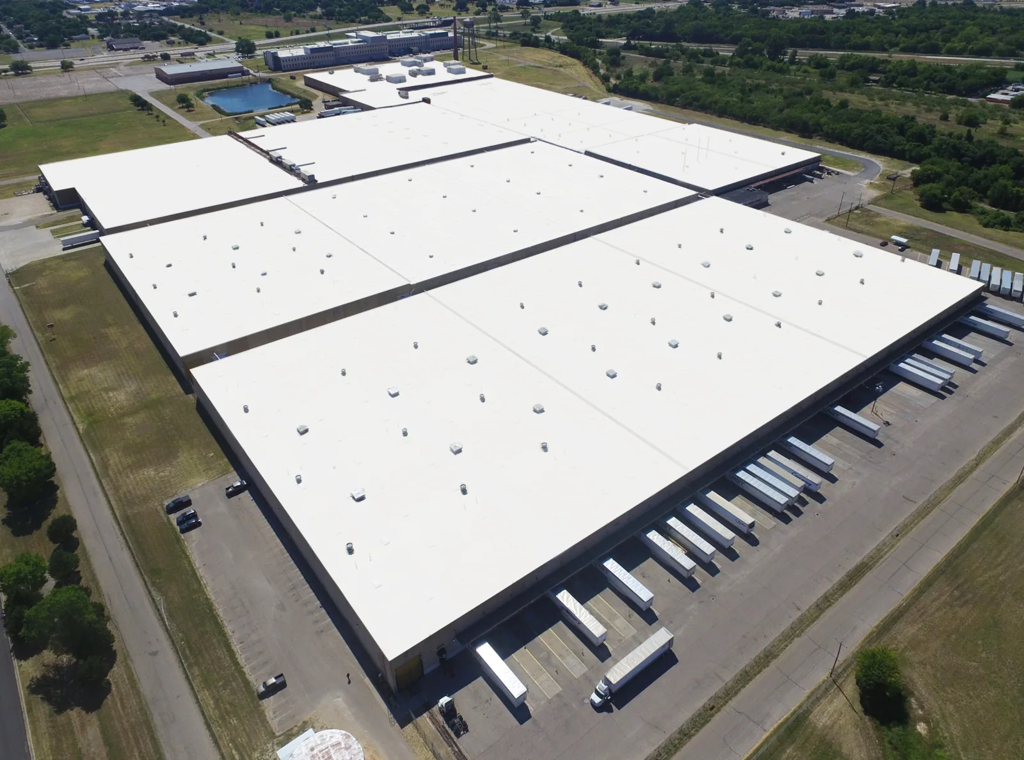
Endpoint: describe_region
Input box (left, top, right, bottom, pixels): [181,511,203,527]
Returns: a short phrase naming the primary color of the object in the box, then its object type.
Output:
black car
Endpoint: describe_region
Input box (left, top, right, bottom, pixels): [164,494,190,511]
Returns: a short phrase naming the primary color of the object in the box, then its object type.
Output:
black vehicle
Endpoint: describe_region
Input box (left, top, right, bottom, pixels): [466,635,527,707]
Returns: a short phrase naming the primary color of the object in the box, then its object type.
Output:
white trailer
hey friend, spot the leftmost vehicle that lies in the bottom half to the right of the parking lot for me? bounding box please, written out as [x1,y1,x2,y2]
[433,696,470,734]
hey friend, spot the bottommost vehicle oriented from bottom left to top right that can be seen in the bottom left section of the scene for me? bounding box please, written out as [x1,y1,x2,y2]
[255,672,288,699]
